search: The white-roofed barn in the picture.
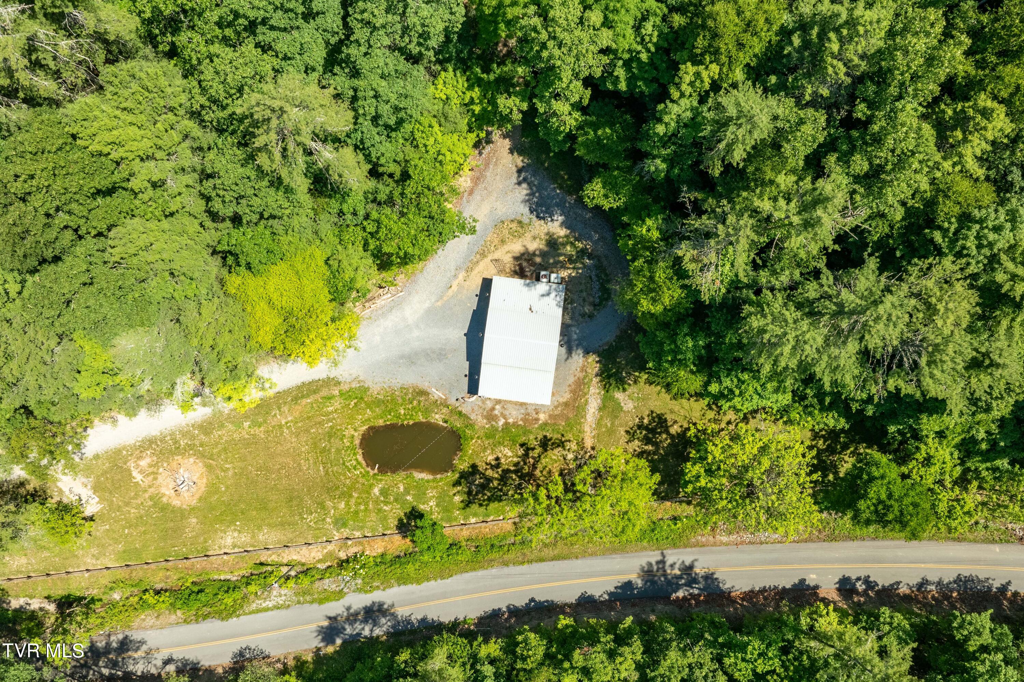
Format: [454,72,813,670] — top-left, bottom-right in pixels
[475,276,565,404]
